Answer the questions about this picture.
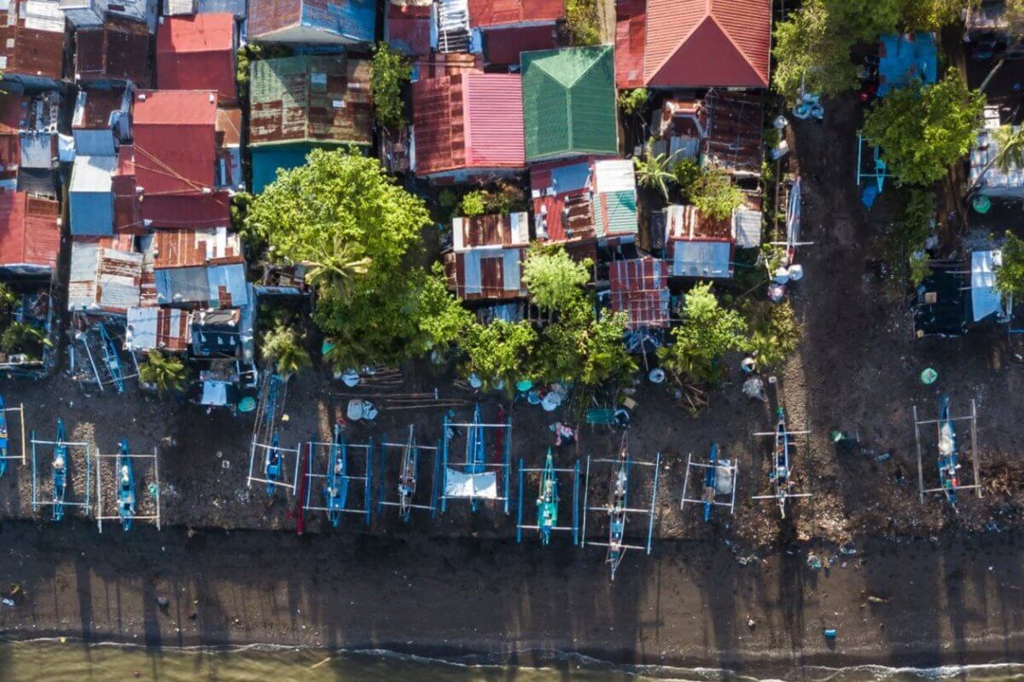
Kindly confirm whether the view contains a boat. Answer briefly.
Yes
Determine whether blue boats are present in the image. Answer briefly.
Yes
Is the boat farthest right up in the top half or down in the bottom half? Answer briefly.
bottom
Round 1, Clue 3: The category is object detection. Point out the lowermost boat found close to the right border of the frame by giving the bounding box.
[914,396,982,514]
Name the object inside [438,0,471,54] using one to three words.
shed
